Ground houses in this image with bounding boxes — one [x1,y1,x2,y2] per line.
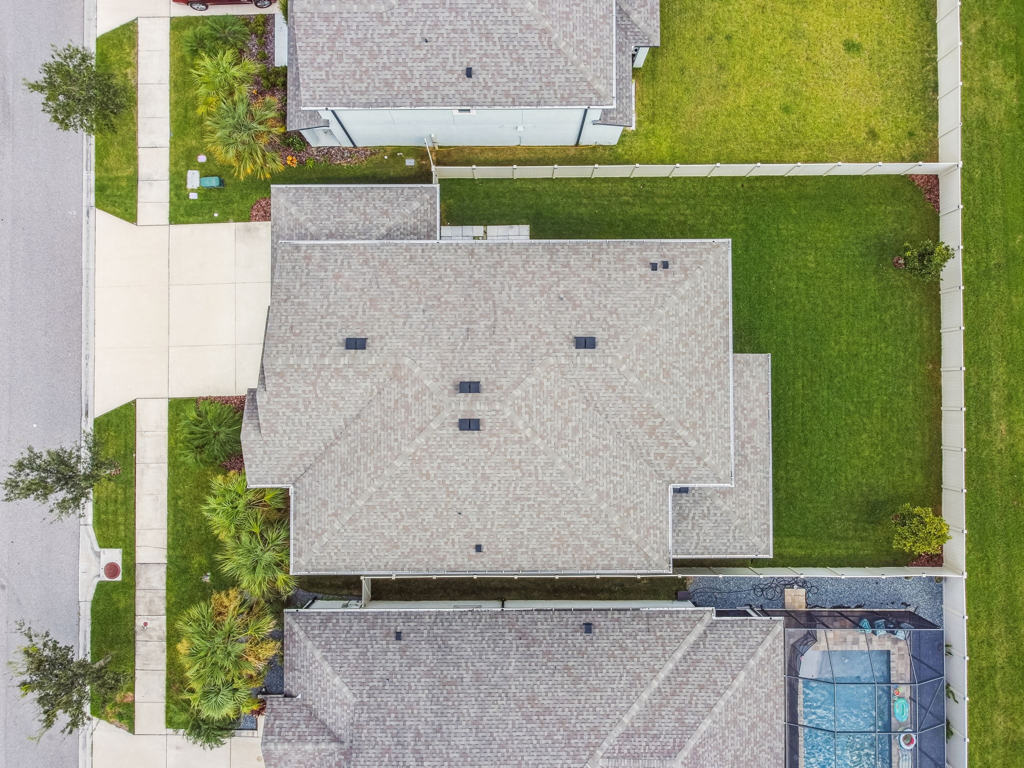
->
[287,0,663,151]
[261,598,786,768]
[241,183,774,577]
